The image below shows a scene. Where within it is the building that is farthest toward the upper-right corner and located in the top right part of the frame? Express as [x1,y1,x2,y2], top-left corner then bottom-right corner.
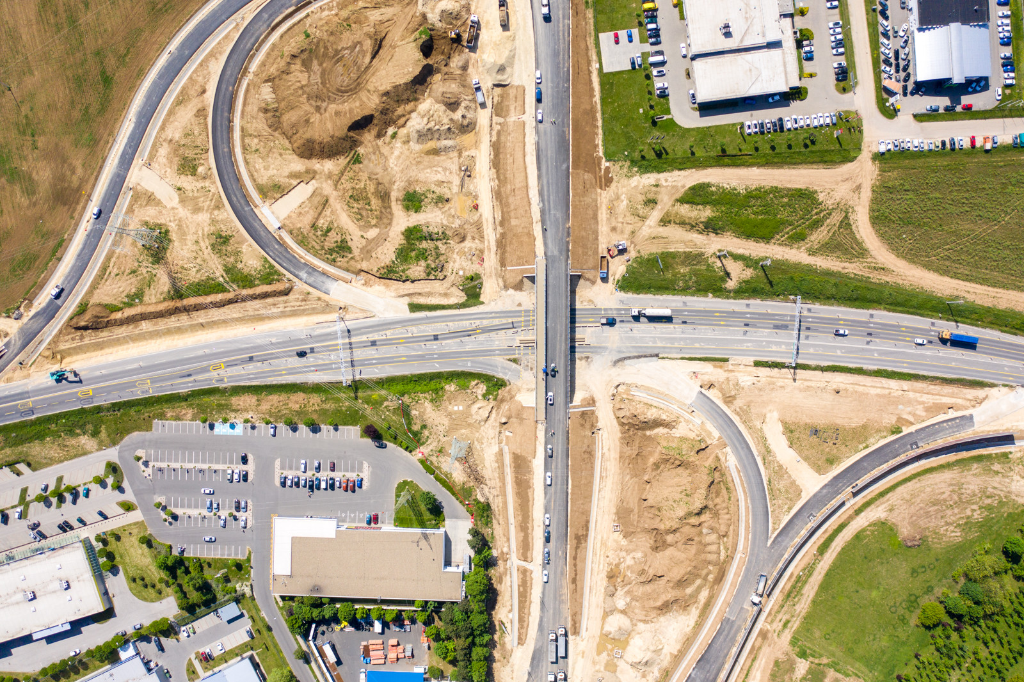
[903,0,991,85]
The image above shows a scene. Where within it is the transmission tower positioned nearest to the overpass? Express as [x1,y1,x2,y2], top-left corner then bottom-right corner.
[447,435,471,473]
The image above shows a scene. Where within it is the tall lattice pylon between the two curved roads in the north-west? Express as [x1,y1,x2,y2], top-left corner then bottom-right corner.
[100,210,160,249]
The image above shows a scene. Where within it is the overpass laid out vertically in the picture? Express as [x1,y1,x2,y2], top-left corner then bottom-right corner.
[523,258,581,428]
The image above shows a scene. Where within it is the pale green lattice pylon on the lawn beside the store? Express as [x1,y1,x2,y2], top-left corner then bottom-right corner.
[388,484,417,511]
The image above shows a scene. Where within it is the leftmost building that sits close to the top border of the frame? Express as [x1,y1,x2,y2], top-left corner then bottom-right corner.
[681,0,799,107]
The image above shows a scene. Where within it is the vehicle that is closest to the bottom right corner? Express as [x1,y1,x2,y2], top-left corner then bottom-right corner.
[751,575,768,604]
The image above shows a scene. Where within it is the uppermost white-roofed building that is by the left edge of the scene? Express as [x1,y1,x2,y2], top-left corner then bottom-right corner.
[0,532,117,639]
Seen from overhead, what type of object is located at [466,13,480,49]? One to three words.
vehicle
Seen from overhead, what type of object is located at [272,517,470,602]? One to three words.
building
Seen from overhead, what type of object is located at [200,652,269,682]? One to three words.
building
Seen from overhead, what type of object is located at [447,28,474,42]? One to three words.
work vehicle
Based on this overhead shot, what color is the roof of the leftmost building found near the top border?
white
